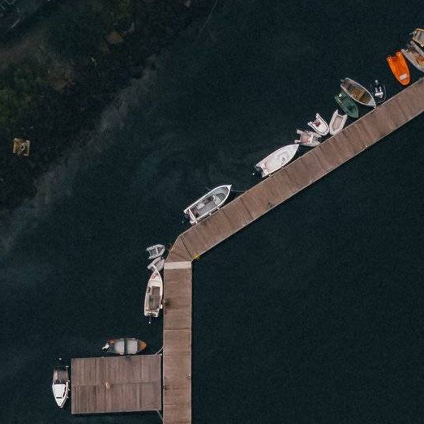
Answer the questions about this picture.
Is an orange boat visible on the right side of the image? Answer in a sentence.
Yes, an orange boat appears on the right side of the image.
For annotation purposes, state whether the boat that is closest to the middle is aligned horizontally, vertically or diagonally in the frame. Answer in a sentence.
In this picture, the boat that is closest to the middle lies diagonally.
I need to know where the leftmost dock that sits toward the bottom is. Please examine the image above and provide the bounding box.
[71,354,163,416]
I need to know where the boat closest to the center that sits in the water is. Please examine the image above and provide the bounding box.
[181,184,232,227]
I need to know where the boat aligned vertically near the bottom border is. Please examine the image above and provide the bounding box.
[52,366,70,410]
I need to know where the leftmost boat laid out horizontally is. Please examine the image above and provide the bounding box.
[106,337,147,355]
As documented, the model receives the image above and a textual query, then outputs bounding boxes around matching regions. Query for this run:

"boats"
[147,258,164,273]
[146,243,166,258]
[295,131,322,150]
[331,91,359,120]
[143,270,162,318]
[403,42,424,71]
[330,109,347,135]
[410,25,424,48]
[386,51,410,88]
[52,366,70,410]
[106,337,147,355]
[337,75,375,109]
[372,81,386,103]
[181,184,232,227]
[309,115,328,137]
[254,143,298,179]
